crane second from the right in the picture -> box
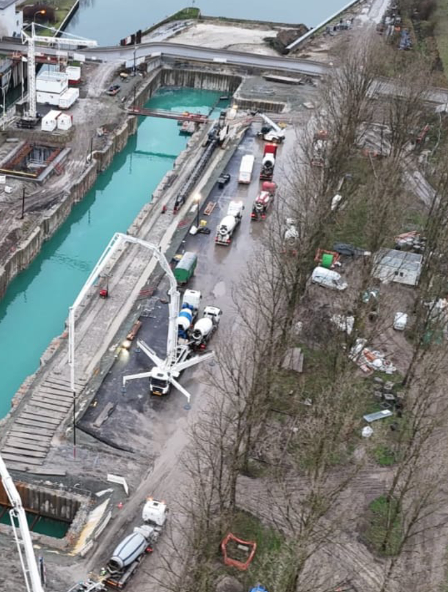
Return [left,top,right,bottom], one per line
[173,114,234,213]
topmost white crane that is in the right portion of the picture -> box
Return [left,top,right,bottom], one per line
[256,111,286,142]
